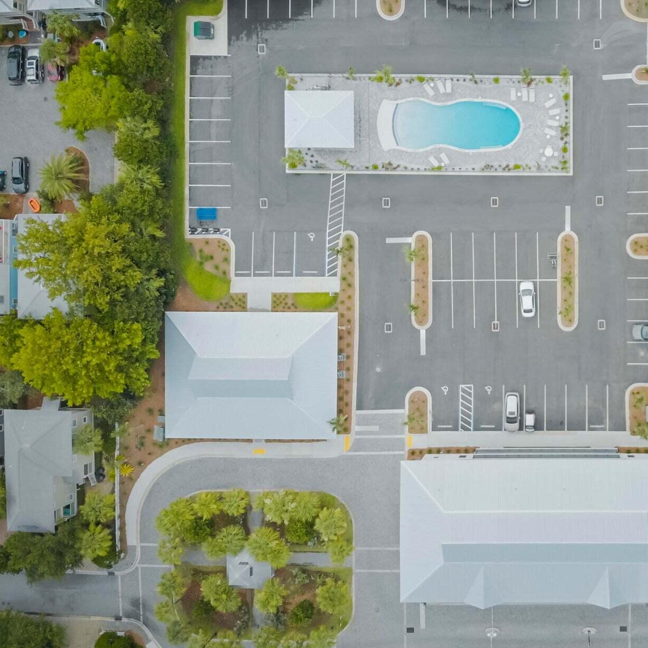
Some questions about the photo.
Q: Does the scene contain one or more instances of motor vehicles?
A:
Yes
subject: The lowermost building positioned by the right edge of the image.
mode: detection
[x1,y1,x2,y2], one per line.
[399,444,648,609]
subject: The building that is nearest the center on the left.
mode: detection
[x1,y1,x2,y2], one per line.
[164,311,338,440]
